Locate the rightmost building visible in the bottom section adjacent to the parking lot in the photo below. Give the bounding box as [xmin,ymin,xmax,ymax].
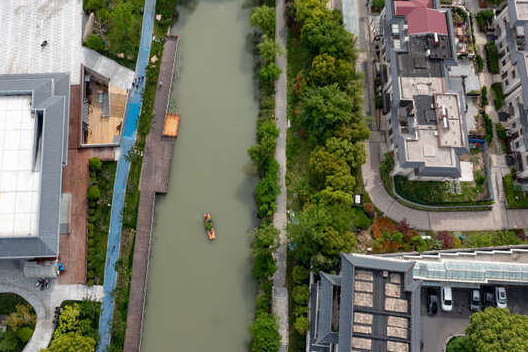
[315,251,422,352]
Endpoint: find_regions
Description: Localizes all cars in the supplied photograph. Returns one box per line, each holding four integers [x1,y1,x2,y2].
[496,283,511,310]
[427,289,441,317]
[471,286,485,312]
[441,284,456,311]
[483,284,498,312]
